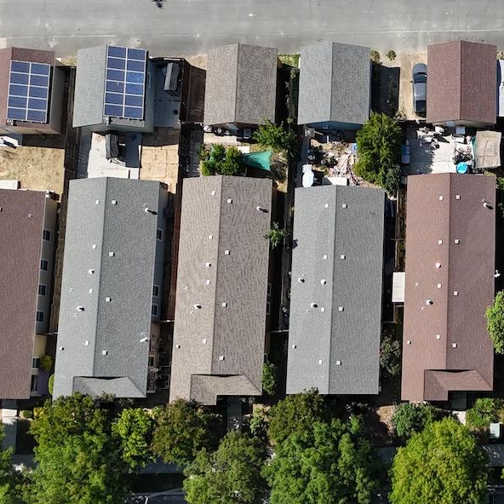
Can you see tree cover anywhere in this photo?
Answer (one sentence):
Yes, there's tree cover in this view.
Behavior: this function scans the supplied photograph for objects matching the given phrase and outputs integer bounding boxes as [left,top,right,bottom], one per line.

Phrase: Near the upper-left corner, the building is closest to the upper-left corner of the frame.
[0,47,66,134]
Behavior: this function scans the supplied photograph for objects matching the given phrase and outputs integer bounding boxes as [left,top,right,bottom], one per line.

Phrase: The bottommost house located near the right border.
[401,173,500,401]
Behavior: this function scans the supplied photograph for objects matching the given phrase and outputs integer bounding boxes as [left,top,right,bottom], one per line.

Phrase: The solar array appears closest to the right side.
[104,47,146,121]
